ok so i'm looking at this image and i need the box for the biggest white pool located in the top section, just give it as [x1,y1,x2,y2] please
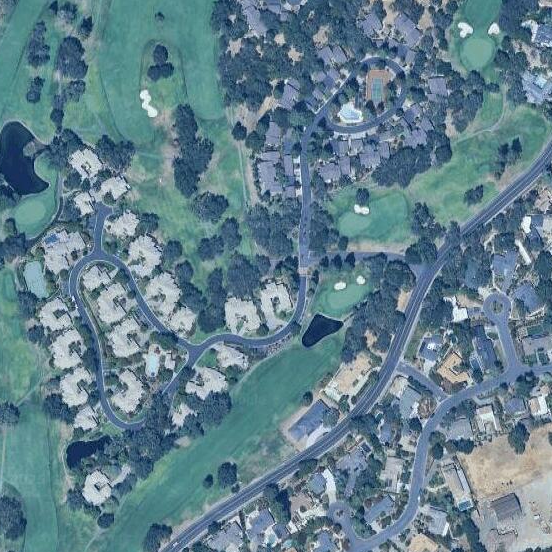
[339,103,362,123]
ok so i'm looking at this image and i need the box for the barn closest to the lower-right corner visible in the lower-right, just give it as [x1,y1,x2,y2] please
[490,493,523,522]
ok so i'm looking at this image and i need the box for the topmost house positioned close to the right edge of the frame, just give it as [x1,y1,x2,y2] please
[534,23,552,45]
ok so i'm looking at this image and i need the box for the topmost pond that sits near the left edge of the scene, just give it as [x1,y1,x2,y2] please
[0,121,49,197]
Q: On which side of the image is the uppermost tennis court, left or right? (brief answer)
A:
right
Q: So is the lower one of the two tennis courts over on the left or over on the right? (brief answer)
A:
left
